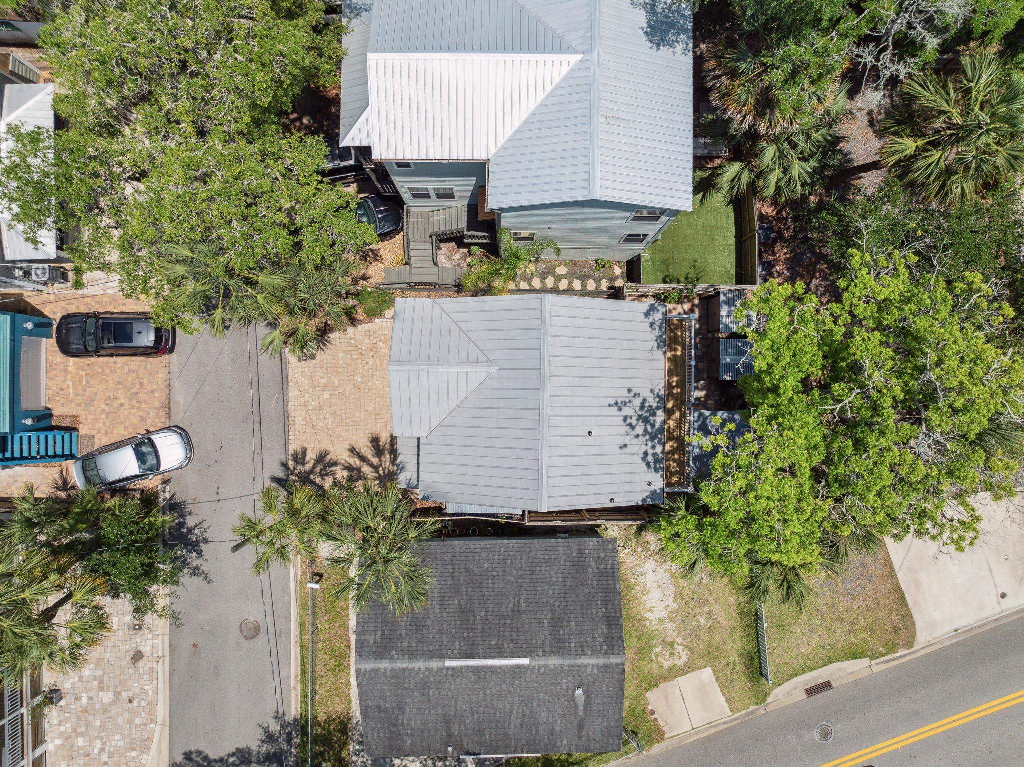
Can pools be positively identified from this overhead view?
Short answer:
No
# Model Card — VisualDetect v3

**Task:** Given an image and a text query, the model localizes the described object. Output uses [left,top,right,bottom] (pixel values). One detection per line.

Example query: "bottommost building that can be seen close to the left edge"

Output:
[0,314,53,434]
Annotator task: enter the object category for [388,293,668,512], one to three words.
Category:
house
